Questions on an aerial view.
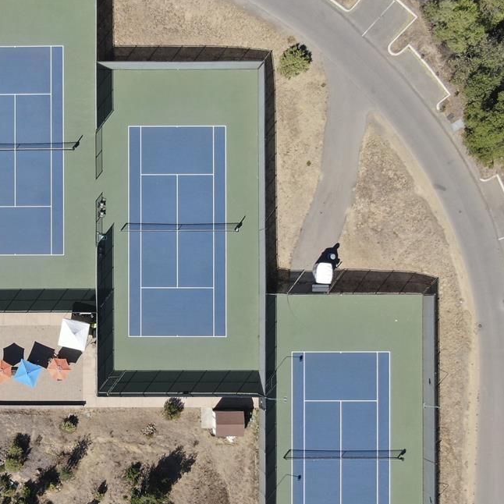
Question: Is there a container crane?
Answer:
No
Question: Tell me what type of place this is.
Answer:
sports ground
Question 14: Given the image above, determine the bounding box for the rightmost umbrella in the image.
[47,358,71,379]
